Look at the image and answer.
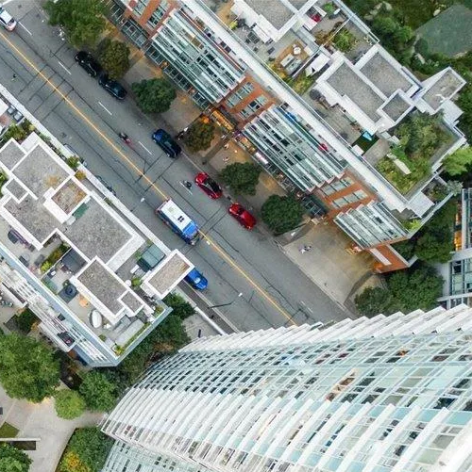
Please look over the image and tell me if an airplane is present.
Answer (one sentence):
No, the frame has no airplane in it.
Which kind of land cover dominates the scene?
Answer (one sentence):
What you mostly see from above here is buildings.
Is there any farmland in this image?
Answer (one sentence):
No, farmland can't be seen anywhere here.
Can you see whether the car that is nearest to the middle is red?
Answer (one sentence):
Yes, the car that is nearest to the middle is red.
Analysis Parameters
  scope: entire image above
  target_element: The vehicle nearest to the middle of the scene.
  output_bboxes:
[228,201,256,230]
